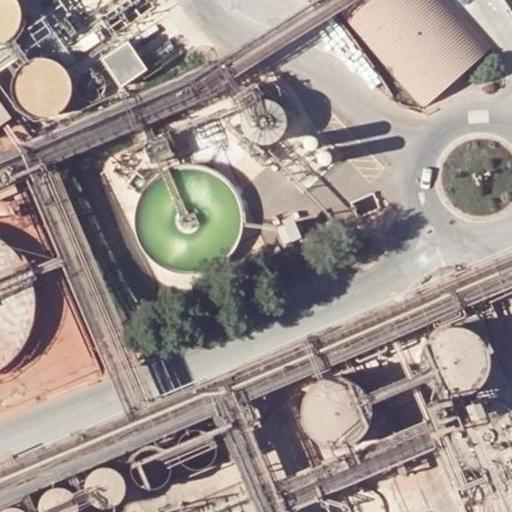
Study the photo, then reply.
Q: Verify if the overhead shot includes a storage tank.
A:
Yes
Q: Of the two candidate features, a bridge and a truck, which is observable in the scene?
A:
bridge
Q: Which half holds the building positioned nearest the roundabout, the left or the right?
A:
right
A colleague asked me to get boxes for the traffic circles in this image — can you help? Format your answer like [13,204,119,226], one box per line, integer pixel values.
[436,133,512,220]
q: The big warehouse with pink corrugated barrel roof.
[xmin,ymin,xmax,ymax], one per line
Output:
[342,0,490,107]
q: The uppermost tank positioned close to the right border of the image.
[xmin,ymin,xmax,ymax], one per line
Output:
[421,328,496,400]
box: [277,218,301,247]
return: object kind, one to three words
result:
shed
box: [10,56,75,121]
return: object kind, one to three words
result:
storage tank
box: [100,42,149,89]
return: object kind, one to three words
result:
building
